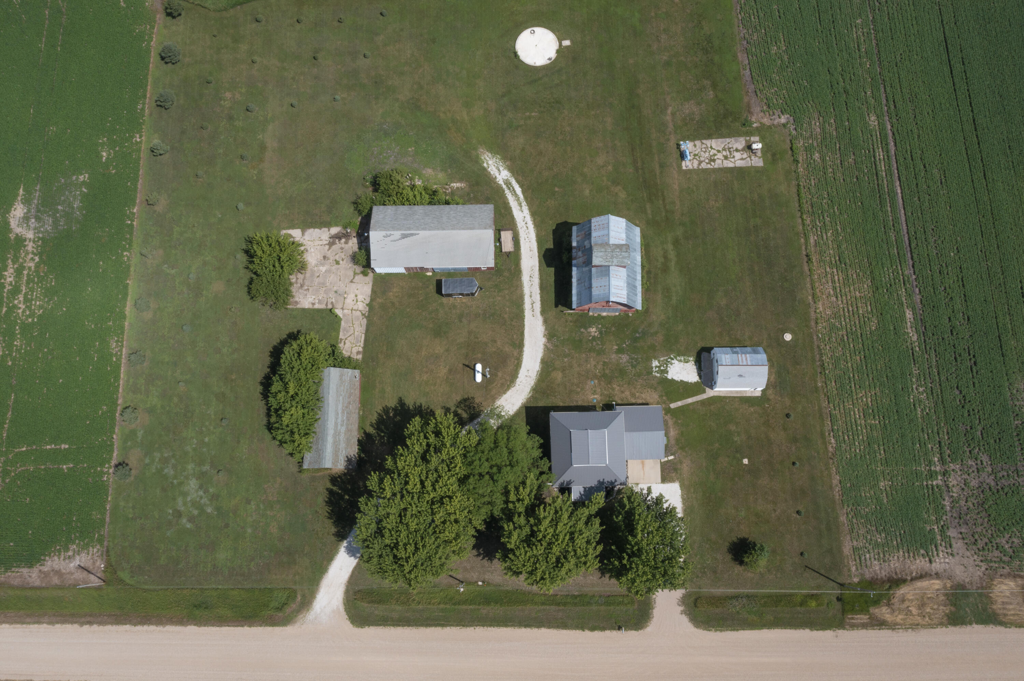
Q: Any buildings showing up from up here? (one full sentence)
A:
Yes, a building is visible in the scene.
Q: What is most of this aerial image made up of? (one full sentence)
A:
For the most part, this view shows grass.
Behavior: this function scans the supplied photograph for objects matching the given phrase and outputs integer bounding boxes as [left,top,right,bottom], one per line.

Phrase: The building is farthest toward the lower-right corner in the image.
[711,347,768,390]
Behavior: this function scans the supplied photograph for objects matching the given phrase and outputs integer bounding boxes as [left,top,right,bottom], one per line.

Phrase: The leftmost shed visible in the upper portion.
[369,204,494,273]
